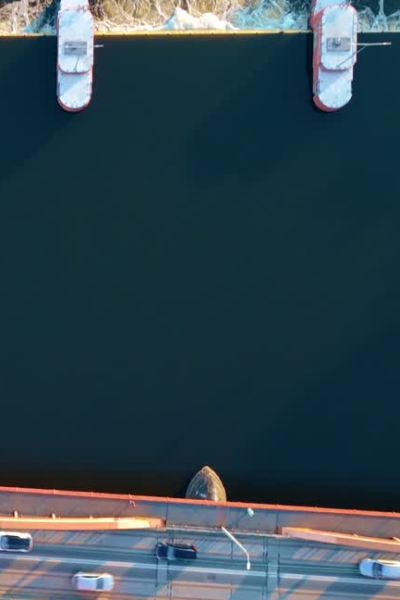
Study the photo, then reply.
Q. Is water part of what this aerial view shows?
Yes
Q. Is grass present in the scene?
No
